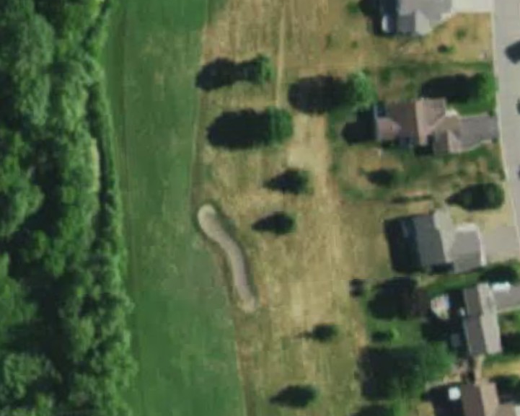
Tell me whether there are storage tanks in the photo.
No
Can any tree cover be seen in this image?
Yes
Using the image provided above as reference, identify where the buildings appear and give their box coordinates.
[381,0,457,35]
[400,210,487,275]
[464,283,504,357]
[456,382,519,416]
[378,95,464,152]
